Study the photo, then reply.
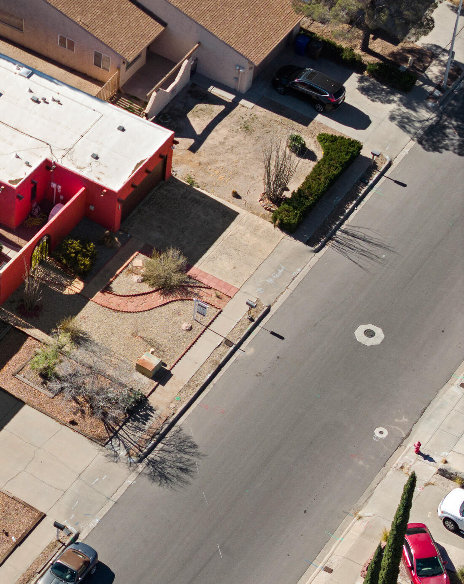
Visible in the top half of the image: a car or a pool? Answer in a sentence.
The one visible in the top half of the image is a car.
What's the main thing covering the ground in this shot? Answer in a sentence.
The bulk of the photo consists of paved ground.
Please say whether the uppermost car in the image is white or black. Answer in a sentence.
The color of the uppermost car is black.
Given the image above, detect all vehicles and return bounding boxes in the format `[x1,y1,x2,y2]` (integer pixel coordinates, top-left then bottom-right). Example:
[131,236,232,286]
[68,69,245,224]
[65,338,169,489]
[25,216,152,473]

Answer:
[438,487,464,529]
[270,64,350,112]
[37,541,99,584]
[409,521,454,584]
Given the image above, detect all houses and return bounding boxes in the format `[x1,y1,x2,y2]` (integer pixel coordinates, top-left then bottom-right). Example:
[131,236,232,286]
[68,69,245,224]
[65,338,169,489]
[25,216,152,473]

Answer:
[0,53,180,234]
[0,0,303,92]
